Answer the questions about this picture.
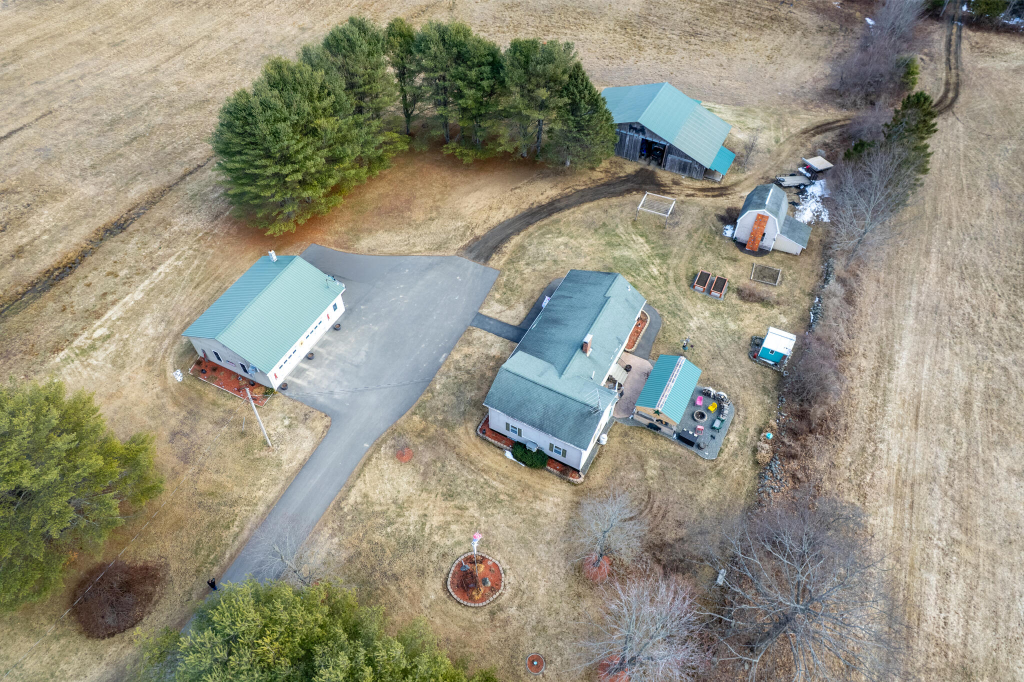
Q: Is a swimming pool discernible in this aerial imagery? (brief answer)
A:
No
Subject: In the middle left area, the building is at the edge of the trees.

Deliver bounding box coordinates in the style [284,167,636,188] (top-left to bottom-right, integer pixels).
[181,243,346,391]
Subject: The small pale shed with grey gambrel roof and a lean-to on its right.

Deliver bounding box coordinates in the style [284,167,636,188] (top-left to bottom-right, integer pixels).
[732,185,813,261]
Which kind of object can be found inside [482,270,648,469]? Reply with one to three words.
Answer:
house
